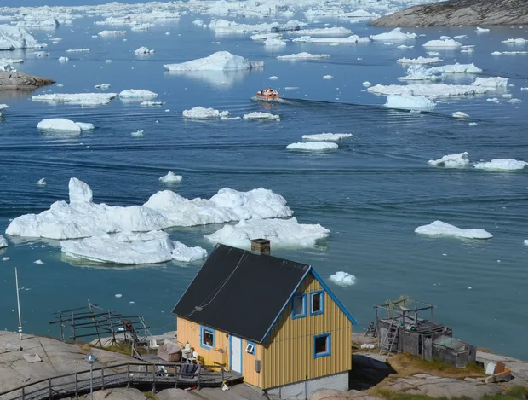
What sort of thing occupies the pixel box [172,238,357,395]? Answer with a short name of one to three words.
house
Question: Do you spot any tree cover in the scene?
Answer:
No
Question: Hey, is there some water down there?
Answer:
Yes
